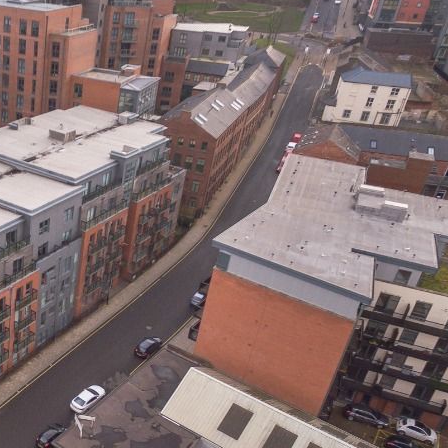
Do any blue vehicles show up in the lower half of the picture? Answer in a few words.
No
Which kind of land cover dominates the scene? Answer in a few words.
buildings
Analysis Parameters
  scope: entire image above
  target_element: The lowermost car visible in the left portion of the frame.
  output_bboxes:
[32,421,66,448]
